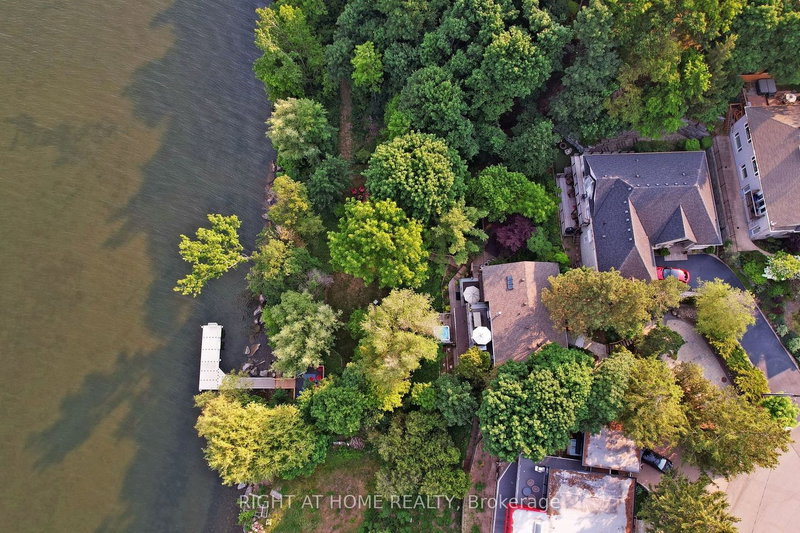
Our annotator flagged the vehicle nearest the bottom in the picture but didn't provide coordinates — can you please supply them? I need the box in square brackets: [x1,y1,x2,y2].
[641,448,677,476]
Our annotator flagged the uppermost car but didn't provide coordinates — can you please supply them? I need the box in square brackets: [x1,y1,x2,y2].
[658,265,692,284]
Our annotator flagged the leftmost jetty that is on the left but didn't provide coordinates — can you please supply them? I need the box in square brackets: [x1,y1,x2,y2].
[197,321,226,390]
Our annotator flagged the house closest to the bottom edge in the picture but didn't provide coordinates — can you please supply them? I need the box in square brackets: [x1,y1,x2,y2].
[505,469,637,533]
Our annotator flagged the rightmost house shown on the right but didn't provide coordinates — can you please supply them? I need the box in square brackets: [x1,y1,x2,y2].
[730,106,800,241]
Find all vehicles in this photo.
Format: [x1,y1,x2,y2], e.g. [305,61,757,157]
[641,448,677,476]
[658,265,692,284]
